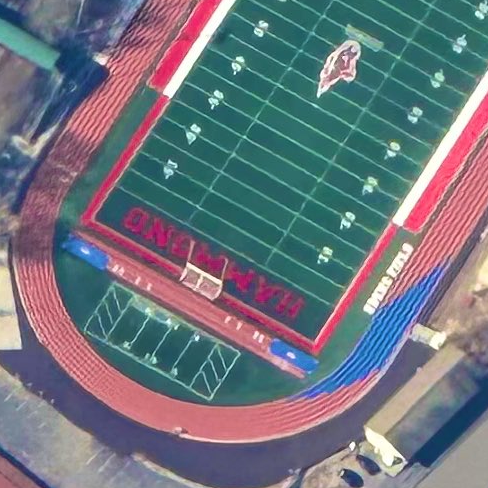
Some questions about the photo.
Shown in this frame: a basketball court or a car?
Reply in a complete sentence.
The image shows a car.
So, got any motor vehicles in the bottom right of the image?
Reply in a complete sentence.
Yes, a motor vehicle is visible in the bottom right of the image.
